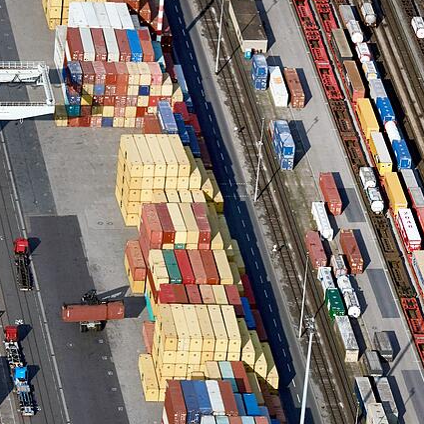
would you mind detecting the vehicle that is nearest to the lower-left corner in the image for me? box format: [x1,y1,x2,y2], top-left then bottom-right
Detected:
[13,369,34,414]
